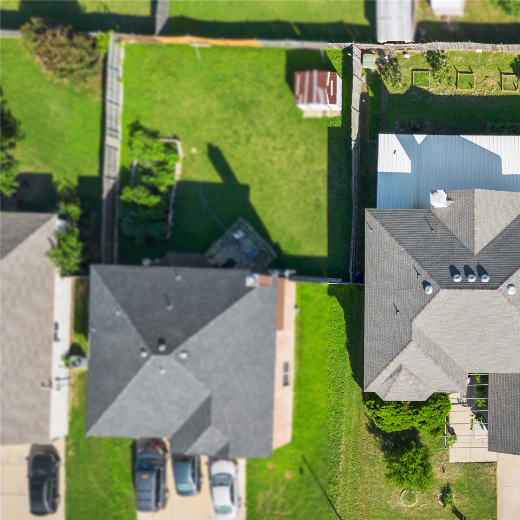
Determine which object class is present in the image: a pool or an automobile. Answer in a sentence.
The image shows an automobile.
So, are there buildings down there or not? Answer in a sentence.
Yes, the image includes a building.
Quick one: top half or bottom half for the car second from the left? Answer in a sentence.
The car second from the left sits in the bottom half of the picture.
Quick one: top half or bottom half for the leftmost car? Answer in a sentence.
The bottom half of the photo is where the leftmost car is.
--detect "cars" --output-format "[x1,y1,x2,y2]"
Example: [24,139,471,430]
[26,447,63,512]
[172,454,204,494]
[134,440,169,507]
[208,458,242,520]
